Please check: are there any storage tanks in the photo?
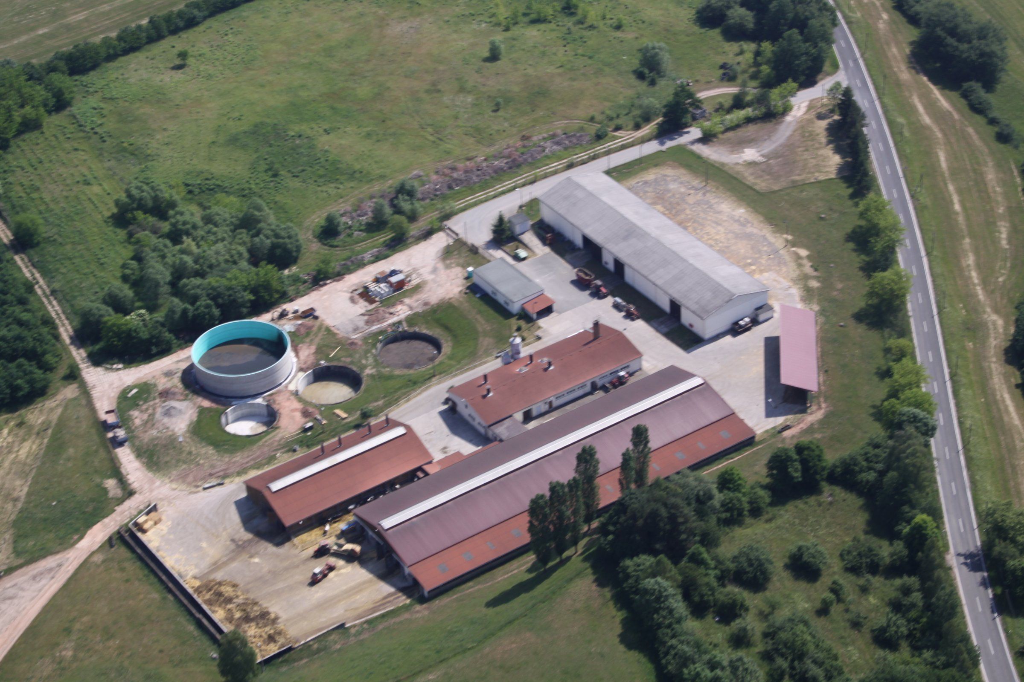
Yes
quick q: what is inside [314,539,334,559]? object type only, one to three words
work vehicle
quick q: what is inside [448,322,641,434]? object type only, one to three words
building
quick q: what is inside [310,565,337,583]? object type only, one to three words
work vehicle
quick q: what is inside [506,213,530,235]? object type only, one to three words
shed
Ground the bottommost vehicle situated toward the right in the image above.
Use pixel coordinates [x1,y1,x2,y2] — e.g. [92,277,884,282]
[605,370,630,390]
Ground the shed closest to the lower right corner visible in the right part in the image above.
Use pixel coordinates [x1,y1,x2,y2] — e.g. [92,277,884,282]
[780,304,818,405]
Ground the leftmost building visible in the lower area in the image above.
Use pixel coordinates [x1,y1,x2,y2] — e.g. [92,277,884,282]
[245,414,435,538]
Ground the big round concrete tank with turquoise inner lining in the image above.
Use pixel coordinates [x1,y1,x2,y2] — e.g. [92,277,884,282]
[191,319,300,401]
